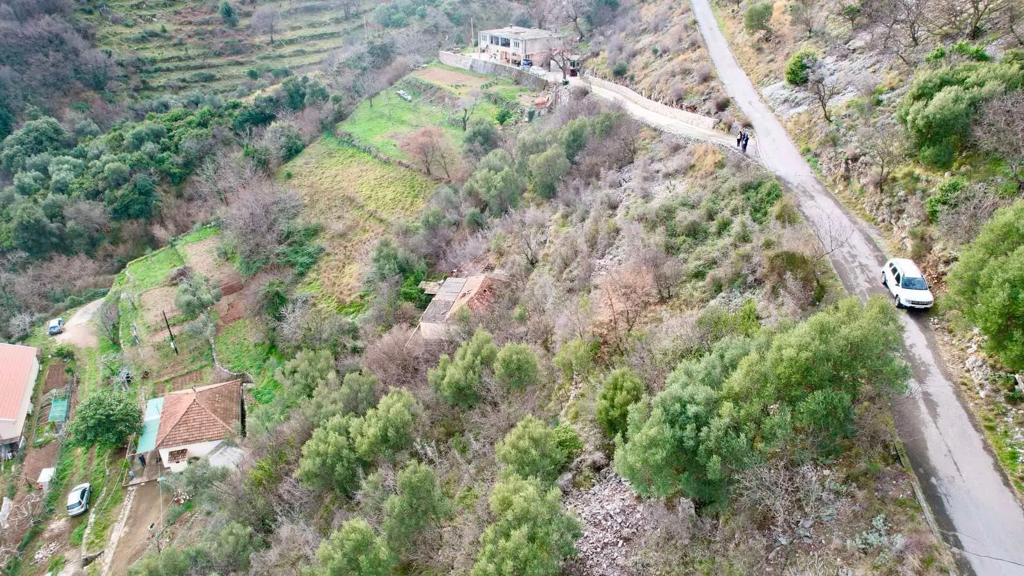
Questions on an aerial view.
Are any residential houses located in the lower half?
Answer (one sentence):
Yes, the scene does show a residential house in the lower half.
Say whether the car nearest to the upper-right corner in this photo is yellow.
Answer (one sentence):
No, the color of the car nearest to the upper-right corner is white.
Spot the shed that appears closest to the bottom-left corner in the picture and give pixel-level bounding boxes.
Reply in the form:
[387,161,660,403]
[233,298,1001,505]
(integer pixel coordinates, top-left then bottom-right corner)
[32,462,54,488]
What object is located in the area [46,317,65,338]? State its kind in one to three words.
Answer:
car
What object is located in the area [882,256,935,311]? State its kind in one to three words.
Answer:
car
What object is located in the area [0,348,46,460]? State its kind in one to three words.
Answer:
house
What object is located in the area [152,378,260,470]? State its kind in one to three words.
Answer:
house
